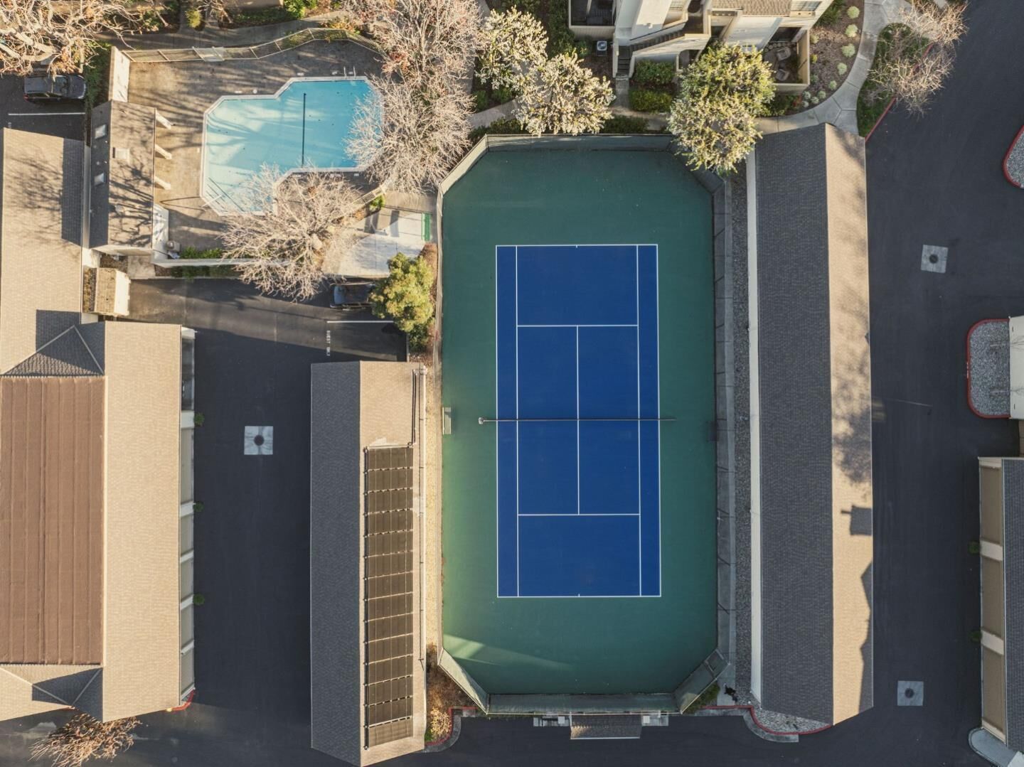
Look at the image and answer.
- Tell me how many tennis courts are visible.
1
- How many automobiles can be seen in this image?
2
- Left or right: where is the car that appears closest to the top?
left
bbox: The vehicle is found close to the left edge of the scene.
[15,65,86,103]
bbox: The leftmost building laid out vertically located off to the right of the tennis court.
[748,126,874,731]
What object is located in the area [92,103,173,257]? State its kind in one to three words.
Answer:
building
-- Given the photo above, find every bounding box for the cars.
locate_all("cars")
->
[327,275,393,308]
[15,65,86,103]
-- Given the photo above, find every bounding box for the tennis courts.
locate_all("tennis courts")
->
[442,149,718,693]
